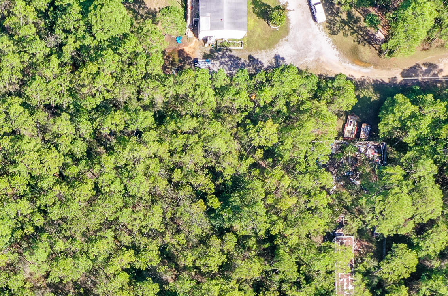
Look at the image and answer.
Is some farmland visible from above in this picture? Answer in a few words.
No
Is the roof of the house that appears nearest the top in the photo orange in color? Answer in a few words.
No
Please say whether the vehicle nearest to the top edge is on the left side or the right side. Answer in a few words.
right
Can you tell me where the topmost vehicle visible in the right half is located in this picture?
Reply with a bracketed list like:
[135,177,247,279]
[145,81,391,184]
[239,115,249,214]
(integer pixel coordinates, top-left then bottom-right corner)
[307,0,328,24]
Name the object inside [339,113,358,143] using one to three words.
vehicle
